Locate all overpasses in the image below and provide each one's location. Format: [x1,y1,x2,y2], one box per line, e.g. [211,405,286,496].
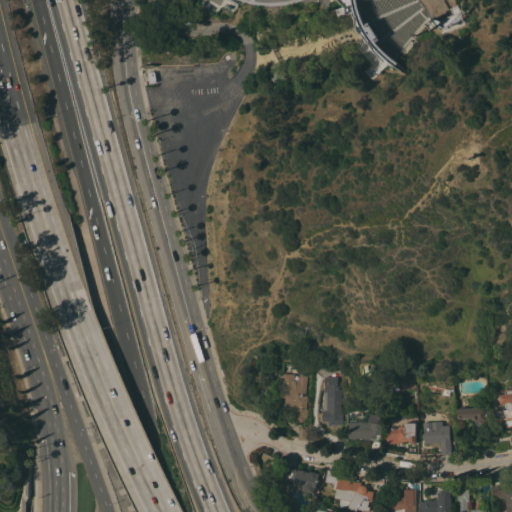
[0,122,182,512]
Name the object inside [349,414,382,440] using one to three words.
house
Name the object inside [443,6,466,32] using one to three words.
building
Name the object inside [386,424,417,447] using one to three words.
house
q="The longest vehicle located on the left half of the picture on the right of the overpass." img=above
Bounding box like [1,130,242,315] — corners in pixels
[189,324,206,364]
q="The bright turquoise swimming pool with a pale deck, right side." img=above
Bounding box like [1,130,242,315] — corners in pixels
[460,378,487,396]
